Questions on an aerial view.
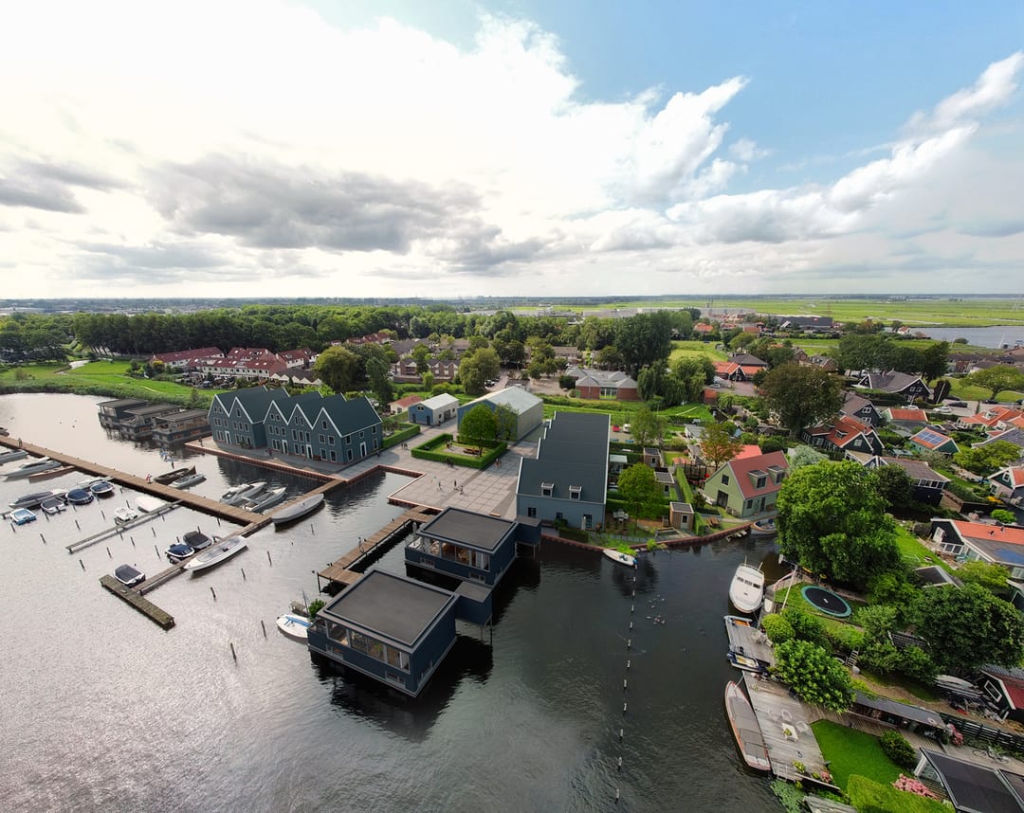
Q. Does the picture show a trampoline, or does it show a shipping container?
trampoline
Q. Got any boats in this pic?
Yes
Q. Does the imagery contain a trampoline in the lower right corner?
Yes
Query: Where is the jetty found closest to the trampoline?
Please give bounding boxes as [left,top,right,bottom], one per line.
[758,572,795,637]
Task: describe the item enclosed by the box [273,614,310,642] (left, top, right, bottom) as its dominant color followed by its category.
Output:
white boat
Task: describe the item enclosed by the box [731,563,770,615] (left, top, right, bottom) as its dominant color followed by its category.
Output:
white boat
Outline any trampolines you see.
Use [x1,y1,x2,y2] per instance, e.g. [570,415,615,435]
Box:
[802,587,853,619]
